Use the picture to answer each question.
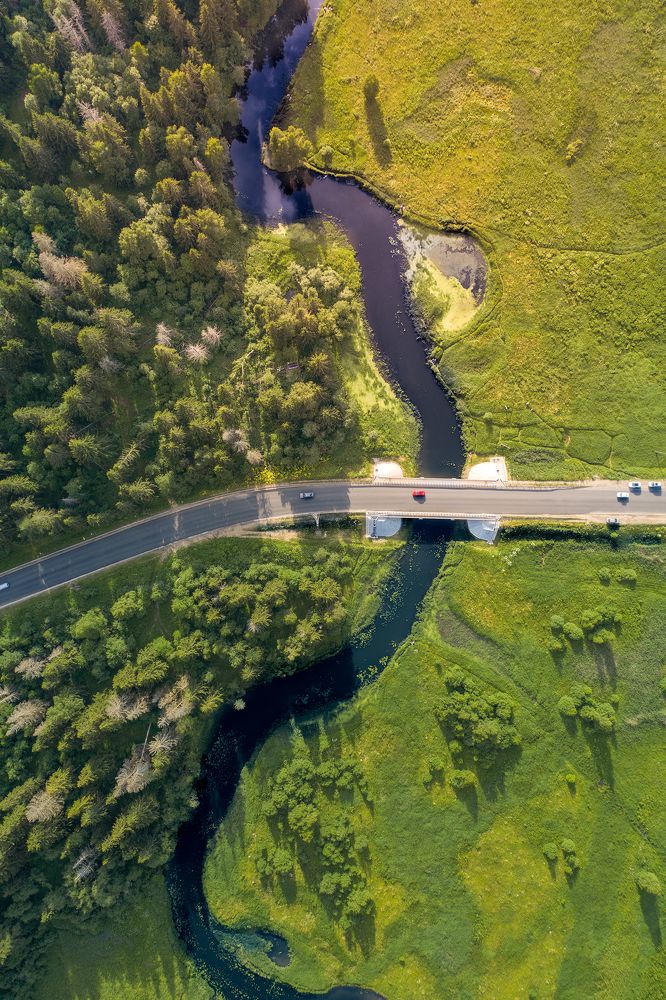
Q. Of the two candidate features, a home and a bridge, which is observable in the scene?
bridge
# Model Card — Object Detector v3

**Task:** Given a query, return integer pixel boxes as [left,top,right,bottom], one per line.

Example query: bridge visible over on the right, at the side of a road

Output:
[365,456,510,541]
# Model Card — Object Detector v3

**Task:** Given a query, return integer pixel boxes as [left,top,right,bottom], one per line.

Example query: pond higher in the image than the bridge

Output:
[400,223,484,329]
